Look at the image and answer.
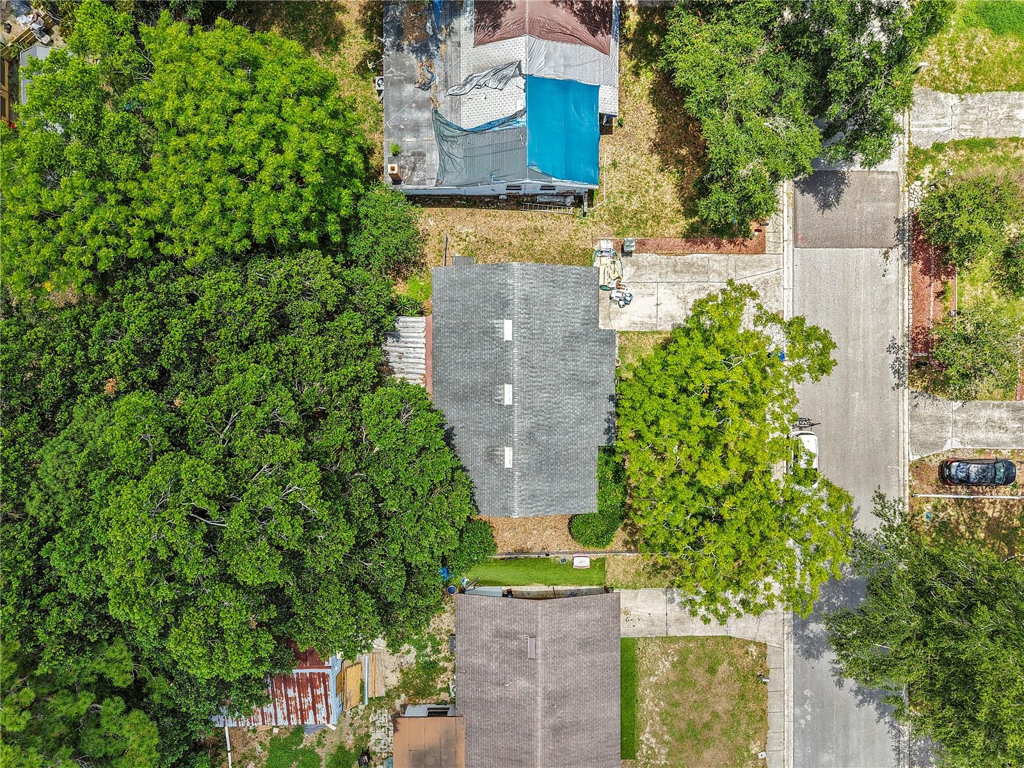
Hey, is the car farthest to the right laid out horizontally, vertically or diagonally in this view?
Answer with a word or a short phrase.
horizontally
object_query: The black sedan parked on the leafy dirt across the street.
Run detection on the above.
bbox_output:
[938,454,1016,489]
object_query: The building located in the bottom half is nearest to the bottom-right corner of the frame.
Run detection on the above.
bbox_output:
[455,590,622,768]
